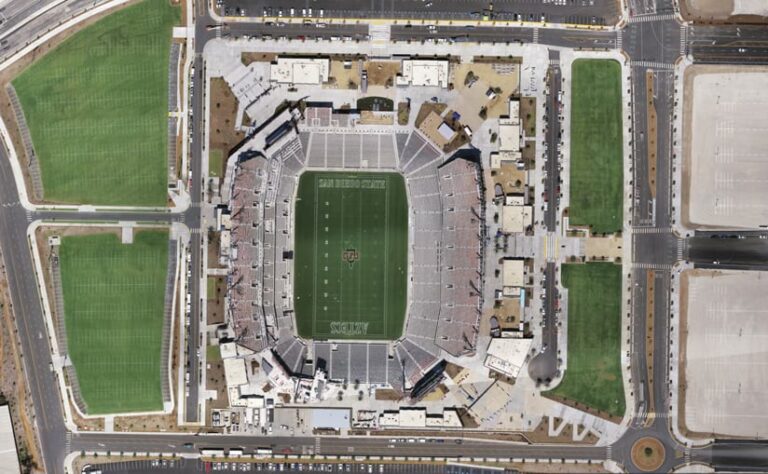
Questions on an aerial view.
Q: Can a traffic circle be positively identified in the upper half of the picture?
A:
No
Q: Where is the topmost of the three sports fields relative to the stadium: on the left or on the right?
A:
left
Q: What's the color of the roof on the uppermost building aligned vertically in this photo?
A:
white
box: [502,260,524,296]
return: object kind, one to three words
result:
building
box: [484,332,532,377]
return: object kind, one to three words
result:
building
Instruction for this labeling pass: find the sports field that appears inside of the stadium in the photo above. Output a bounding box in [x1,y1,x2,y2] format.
[290,166,415,344]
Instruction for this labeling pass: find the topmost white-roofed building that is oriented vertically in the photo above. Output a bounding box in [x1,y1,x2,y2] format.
[490,101,520,168]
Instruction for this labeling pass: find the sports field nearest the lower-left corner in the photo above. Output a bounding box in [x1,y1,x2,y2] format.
[60,229,169,415]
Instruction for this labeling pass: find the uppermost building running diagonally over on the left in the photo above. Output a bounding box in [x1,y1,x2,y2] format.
[230,109,300,164]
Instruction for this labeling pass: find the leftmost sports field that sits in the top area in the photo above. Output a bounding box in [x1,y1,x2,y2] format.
[14,0,182,206]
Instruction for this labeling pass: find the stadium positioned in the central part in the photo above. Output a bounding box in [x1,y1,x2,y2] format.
[226,107,487,388]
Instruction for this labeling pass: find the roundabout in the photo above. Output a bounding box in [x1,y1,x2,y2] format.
[630,437,665,472]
